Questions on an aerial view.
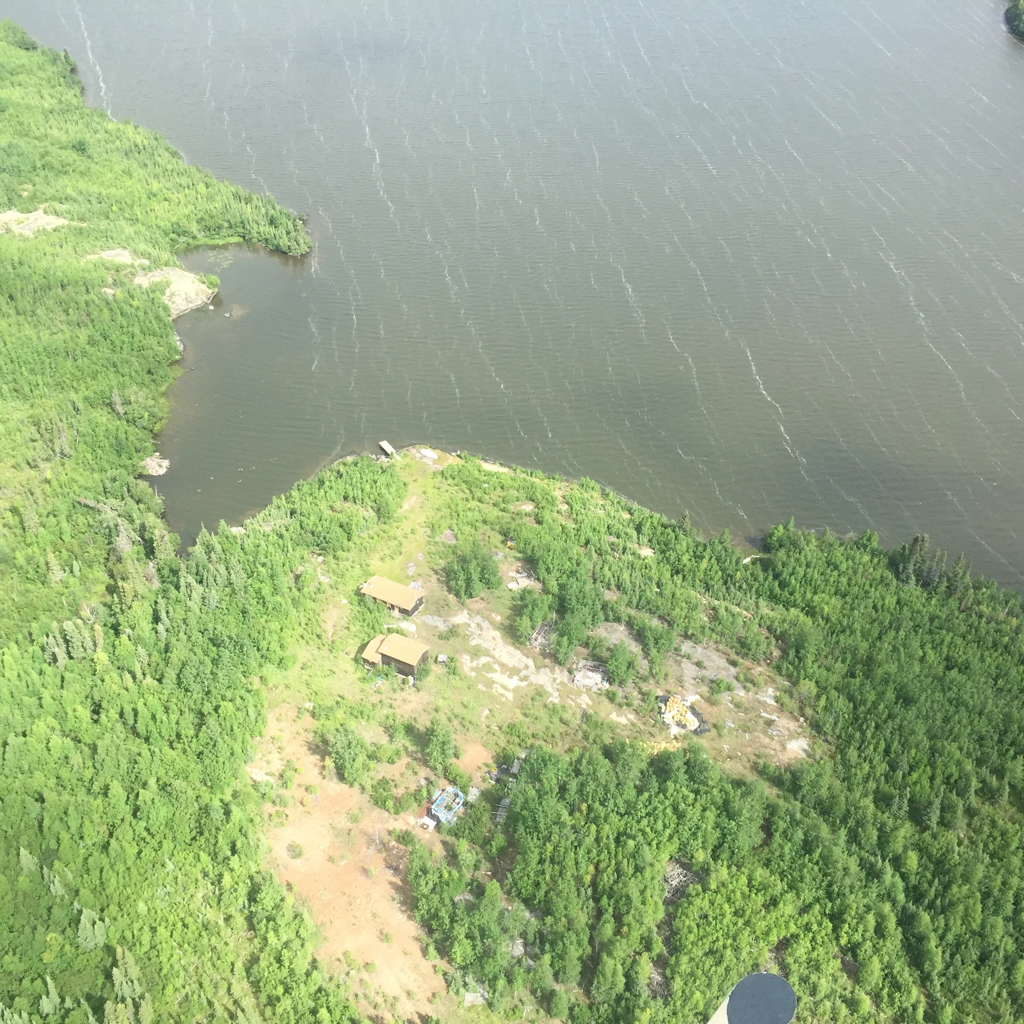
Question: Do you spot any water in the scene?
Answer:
Yes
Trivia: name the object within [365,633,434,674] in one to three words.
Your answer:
building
